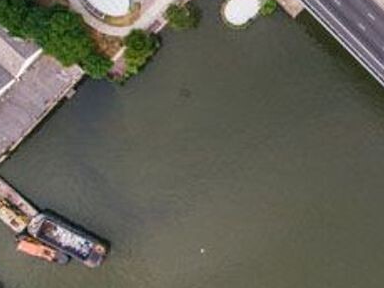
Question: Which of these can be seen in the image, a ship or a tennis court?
ship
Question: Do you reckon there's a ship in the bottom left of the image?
Yes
